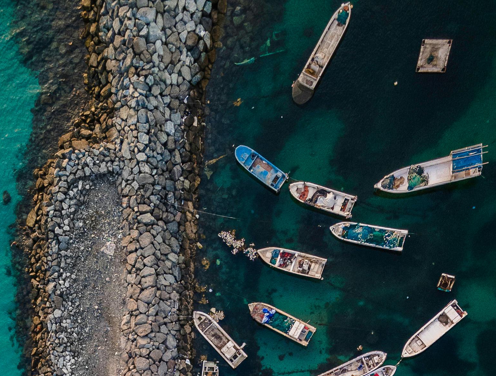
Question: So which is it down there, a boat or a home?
boat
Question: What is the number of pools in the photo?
zero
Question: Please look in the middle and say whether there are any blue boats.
Yes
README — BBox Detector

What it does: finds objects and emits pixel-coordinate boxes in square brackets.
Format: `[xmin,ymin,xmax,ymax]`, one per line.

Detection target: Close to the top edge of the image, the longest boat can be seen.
[294,1,350,101]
